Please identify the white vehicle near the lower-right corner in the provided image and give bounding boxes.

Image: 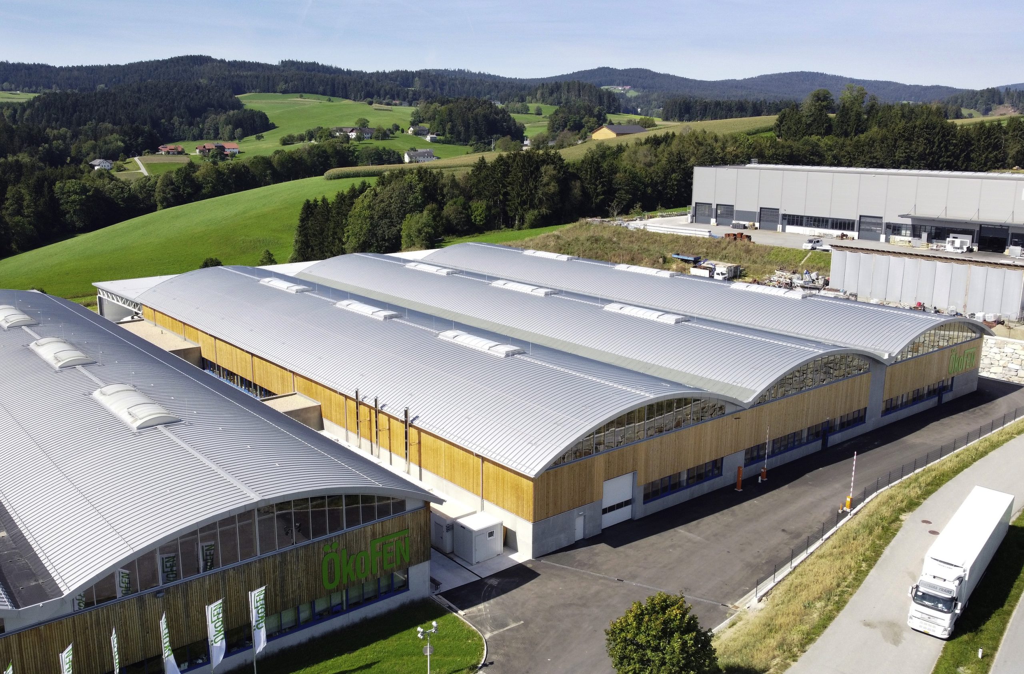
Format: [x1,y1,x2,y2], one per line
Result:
[904,487,1015,643]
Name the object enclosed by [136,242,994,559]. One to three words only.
building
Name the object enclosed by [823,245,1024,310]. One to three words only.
shed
